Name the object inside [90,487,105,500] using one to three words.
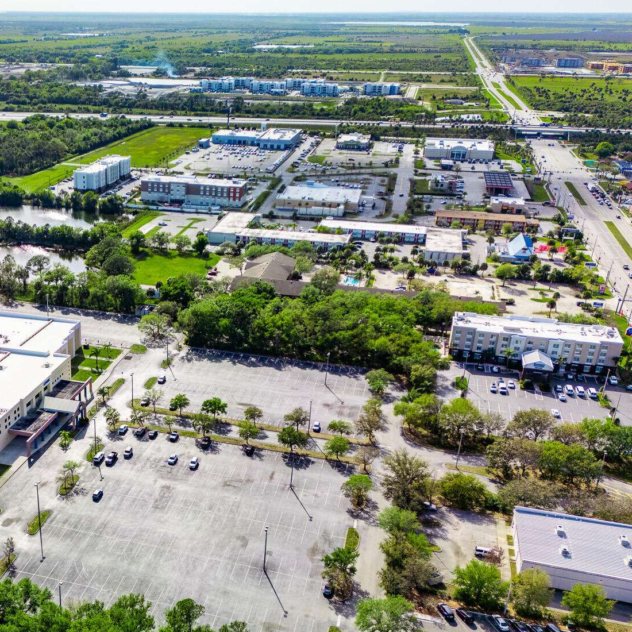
vehicle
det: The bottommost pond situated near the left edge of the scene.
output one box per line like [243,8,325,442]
[0,244,87,278]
